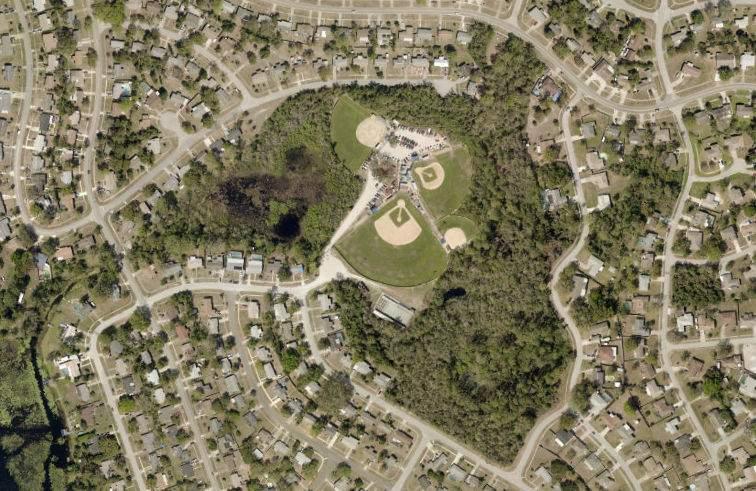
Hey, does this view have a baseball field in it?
Yes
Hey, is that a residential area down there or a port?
residential area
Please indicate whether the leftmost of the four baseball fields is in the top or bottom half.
top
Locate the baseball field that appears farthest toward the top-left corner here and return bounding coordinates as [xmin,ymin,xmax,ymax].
[331,94,387,171]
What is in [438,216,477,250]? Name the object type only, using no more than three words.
baseball field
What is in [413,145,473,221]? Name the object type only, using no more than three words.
baseball field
